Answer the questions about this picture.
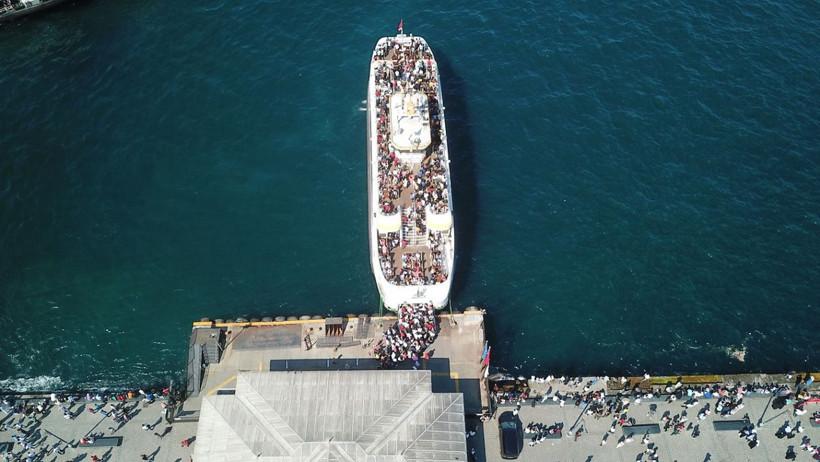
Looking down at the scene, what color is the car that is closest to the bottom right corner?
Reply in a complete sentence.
The car that is closest to the bottom right corner is black.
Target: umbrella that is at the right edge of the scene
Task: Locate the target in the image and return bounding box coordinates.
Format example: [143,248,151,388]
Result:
[770,396,786,411]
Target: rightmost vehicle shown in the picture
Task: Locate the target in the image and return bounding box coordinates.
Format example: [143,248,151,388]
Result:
[497,412,523,462]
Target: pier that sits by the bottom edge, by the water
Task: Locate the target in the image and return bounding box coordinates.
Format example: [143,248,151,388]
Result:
[192,306,495,462]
